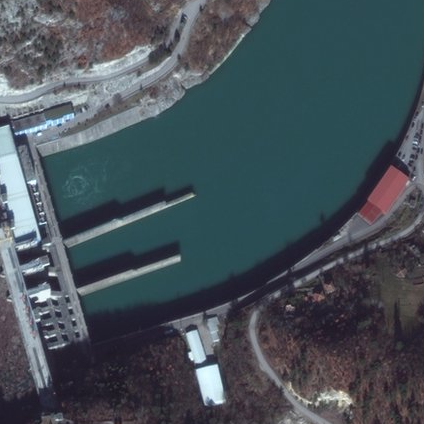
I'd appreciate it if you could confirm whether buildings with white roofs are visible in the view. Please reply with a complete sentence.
Yes, the picture does show a building with a white roof.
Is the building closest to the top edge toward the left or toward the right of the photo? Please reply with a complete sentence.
You can find the building closest to the top edge on the left side of the picture.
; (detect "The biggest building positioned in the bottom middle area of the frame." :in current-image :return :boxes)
[196,364,224,407]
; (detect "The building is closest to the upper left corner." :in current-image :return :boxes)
[11,101,74,137]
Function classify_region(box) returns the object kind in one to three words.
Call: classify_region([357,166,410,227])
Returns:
building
